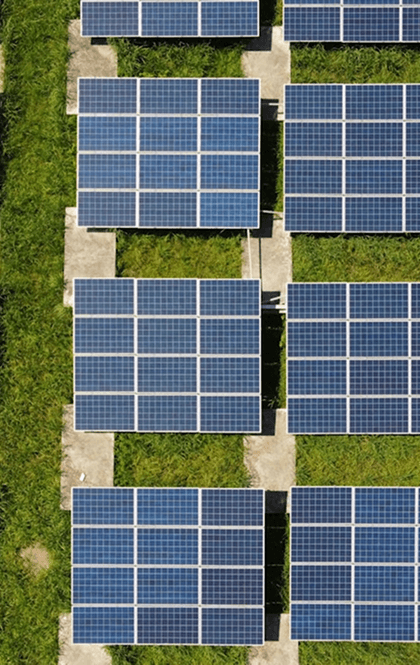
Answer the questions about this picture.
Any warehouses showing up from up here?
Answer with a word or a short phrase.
No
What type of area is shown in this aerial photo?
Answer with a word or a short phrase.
solar farm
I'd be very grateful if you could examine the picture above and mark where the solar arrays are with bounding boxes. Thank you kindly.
[70,487,266,646]
[282,0,420,42]
[73,278,262,432]
[282,84,420,232]
[76,77,262,228]
[80,0,260,37]
[289,486,420,642]
[285,282,420,434]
